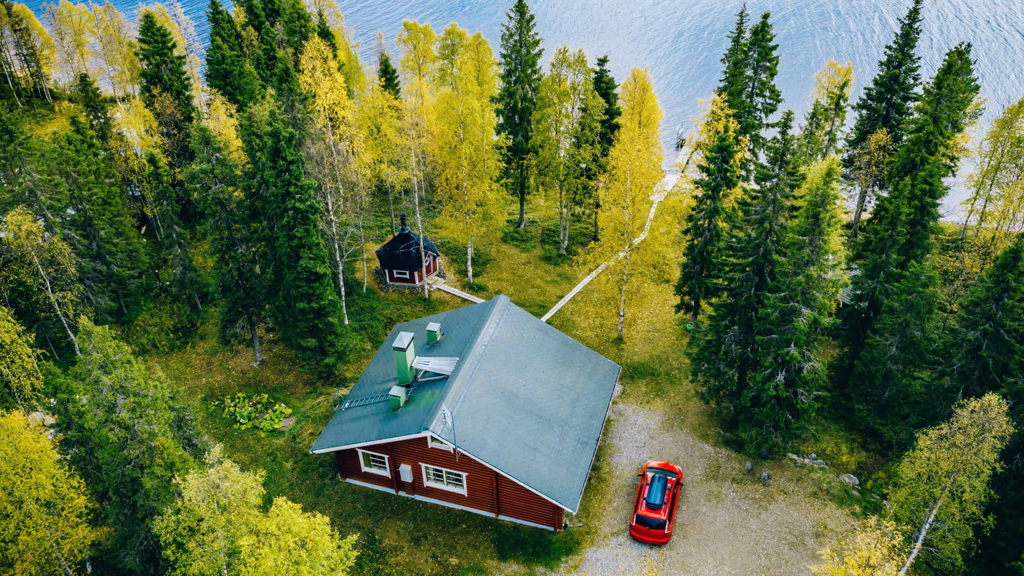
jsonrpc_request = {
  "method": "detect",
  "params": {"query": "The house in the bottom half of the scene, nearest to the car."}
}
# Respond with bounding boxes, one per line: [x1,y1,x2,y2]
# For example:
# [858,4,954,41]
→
[308,296,622,535]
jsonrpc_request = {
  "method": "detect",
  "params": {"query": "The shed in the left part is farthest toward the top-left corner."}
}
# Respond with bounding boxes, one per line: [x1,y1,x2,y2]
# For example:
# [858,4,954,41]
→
[376,213,441,287]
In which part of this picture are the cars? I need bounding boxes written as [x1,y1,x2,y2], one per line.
[630,461,683,546]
